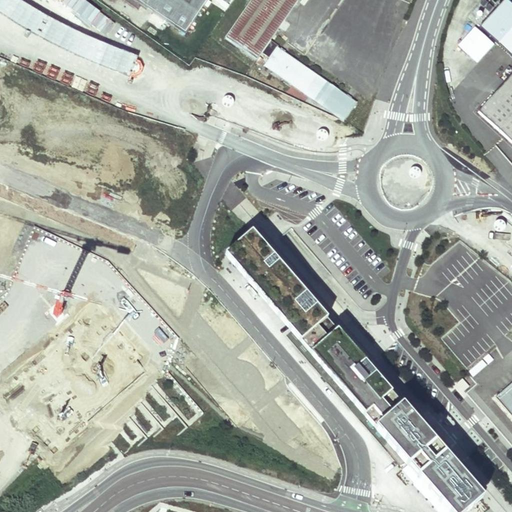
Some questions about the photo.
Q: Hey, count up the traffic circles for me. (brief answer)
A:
one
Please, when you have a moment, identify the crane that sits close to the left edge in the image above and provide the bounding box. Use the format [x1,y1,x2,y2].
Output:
[0,276,106,324]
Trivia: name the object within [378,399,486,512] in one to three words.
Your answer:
building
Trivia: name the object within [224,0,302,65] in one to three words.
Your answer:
building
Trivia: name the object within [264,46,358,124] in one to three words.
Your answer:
shed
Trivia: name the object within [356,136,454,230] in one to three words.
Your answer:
roundabout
